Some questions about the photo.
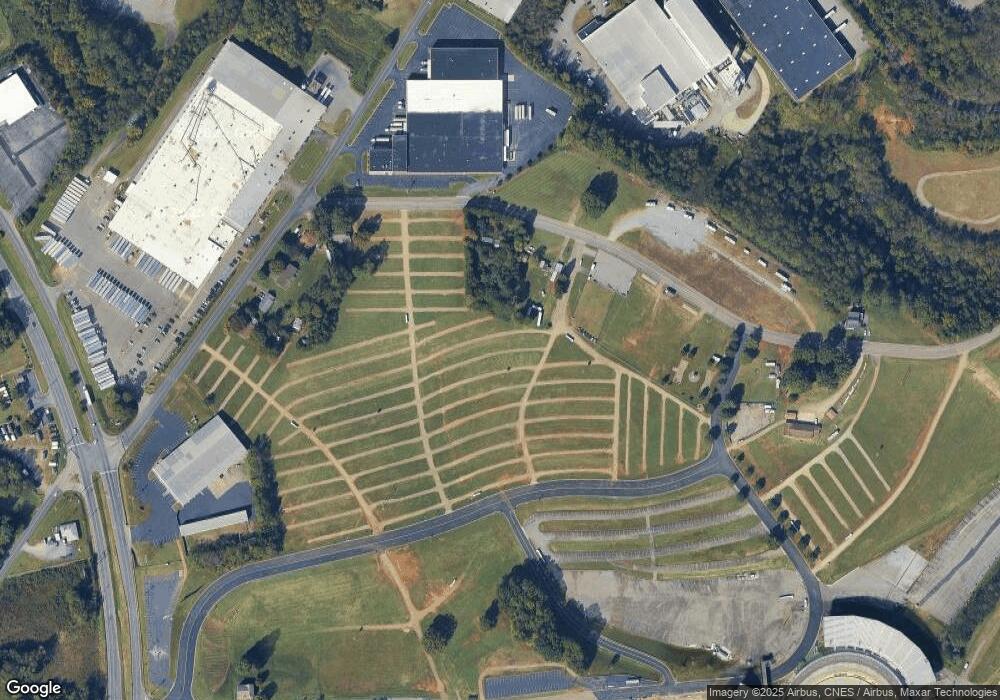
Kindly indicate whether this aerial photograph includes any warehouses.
Yes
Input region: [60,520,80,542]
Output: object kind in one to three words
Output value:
house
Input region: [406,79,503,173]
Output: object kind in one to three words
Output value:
building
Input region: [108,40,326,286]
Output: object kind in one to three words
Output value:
warehouse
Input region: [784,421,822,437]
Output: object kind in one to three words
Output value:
barn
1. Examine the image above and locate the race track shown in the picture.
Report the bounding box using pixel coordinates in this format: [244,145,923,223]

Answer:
[789,649,903,700]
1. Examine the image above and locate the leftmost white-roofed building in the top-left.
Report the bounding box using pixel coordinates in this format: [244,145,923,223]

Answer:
[0,73,38,125]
